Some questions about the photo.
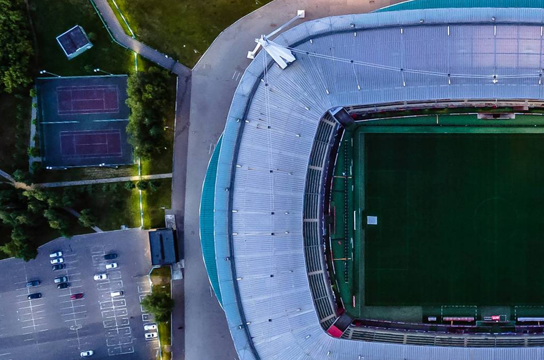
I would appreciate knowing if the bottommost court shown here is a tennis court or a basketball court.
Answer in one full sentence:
I'd say the bottommost court is a tennis court.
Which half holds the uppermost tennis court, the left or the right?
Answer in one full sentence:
The uppermost tennis court is on the left side of the image.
